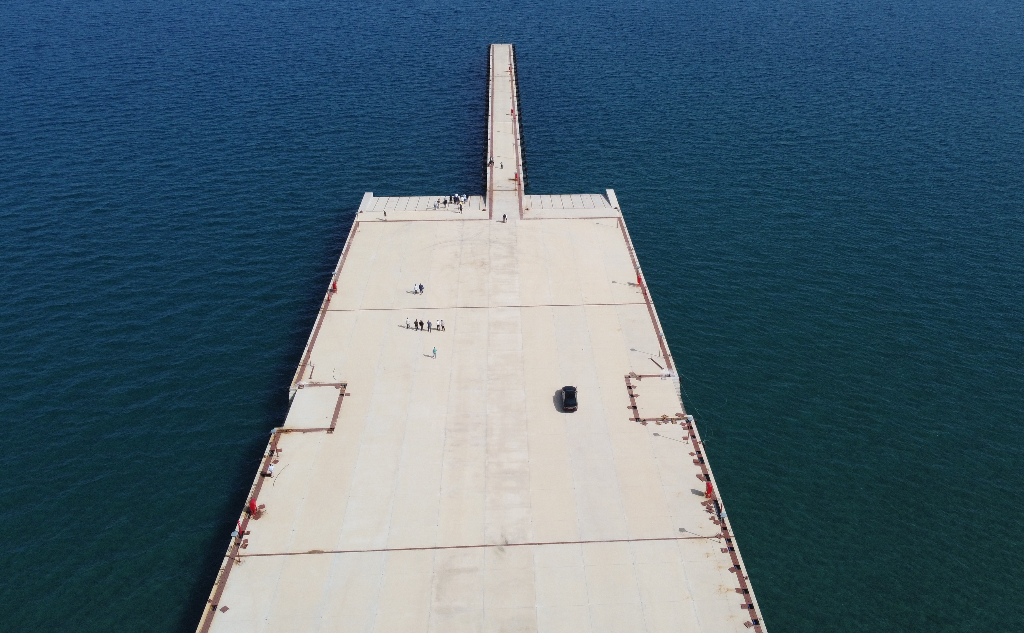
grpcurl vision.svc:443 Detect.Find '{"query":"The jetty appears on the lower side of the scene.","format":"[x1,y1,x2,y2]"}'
[196,208,767,633]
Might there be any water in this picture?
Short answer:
Yes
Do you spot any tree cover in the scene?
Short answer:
No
